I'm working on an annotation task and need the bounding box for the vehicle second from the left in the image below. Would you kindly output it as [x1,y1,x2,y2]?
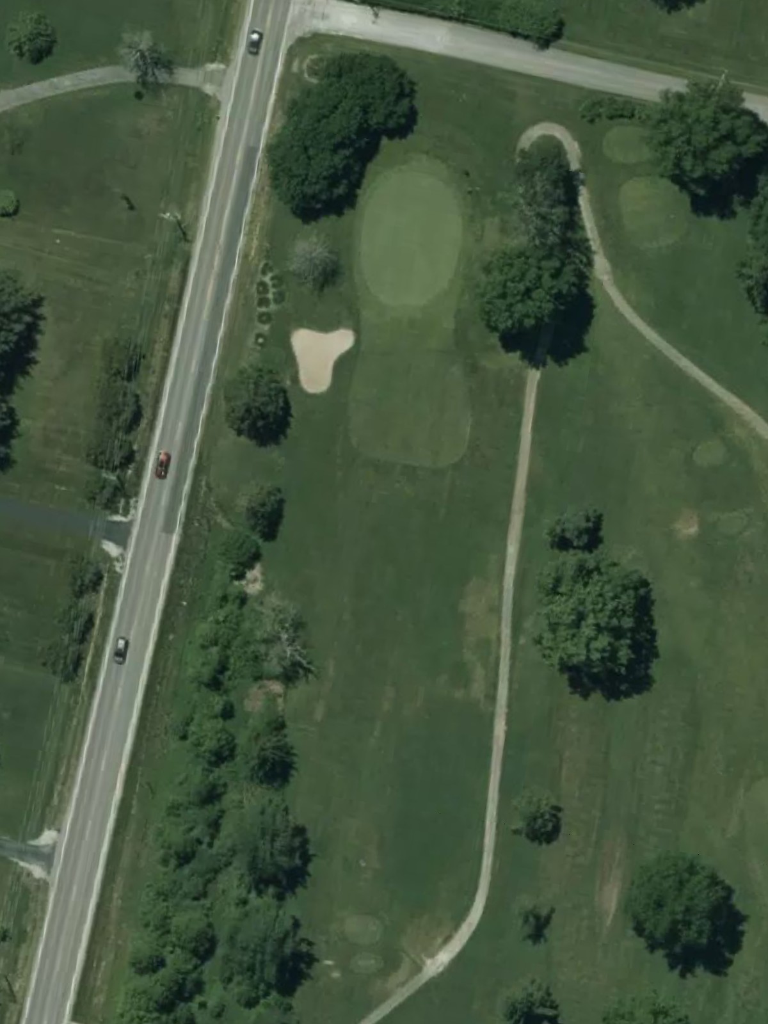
[156,453,170,479]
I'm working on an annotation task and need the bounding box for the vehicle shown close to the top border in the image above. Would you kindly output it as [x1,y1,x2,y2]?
[248,28,261,55]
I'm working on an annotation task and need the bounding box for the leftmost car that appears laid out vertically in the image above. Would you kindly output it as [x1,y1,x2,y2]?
[113,638,127,664]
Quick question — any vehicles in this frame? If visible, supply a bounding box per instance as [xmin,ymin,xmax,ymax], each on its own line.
[113,638,127,664]
[156,453,170,479]
[248,28,261,55]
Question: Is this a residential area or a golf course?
golf course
